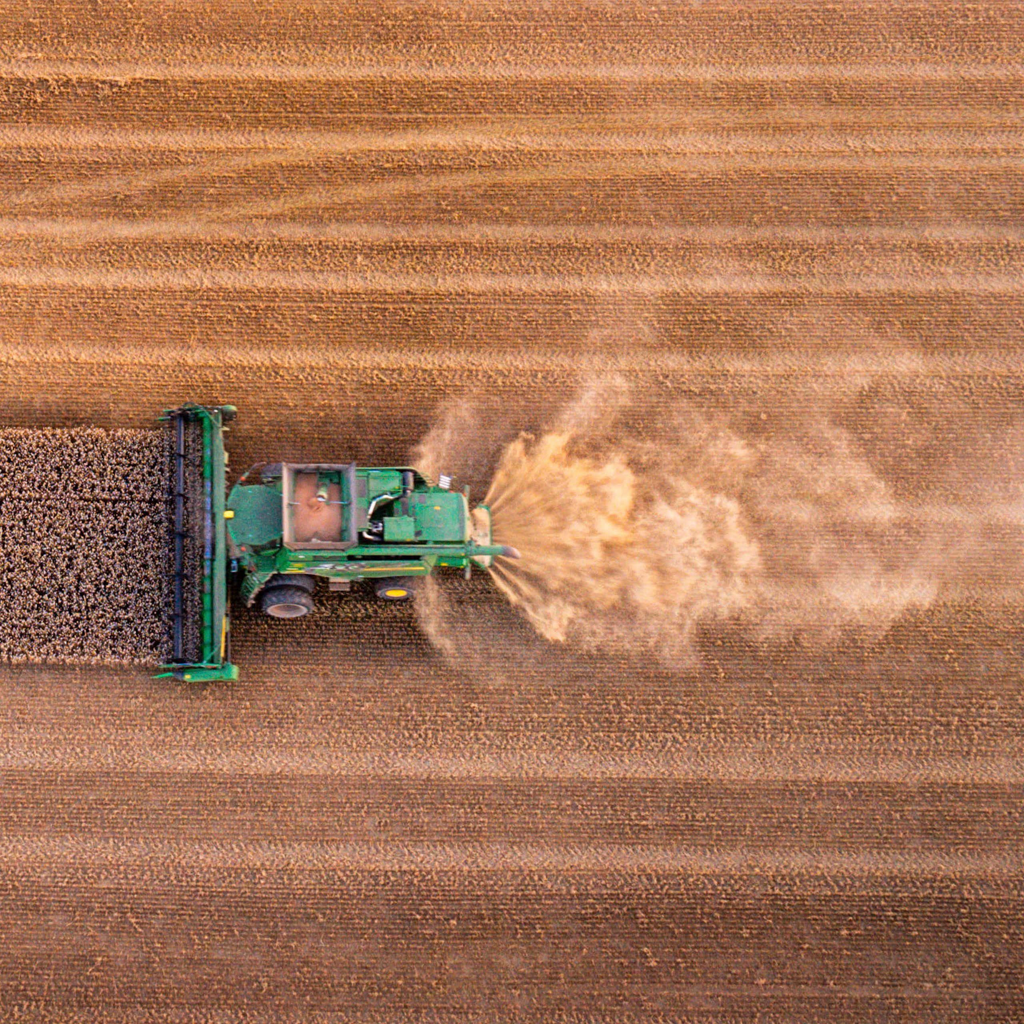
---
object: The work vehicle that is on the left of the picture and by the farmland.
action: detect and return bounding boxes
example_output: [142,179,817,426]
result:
[152,402,521,685]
